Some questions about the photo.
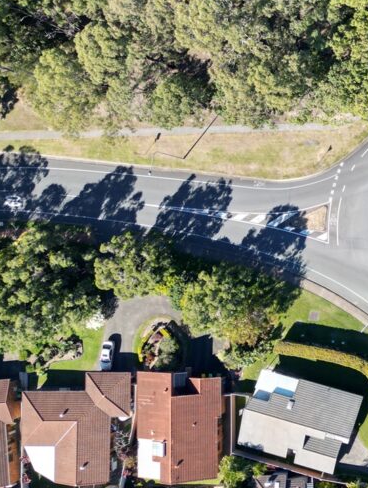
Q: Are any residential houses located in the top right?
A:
No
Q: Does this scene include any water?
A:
No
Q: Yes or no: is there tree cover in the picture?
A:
Yes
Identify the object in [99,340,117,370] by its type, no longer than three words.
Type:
car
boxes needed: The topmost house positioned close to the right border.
[238,370,362,474]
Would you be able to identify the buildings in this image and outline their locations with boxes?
[238,370,362,474]
[22,371,136,485]
[253,472,313,488]
[137,372,224,485]
[0,379,21,486]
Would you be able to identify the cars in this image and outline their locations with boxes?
[0,195,29,209]
[99,340,117,370]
